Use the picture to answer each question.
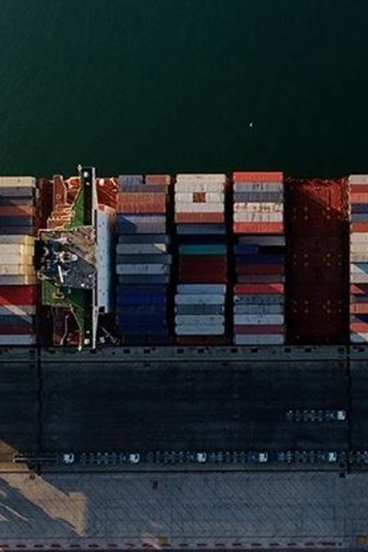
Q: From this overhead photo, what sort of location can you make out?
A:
port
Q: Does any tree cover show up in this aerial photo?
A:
No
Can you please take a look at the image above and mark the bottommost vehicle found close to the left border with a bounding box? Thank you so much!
[13,454,75,466]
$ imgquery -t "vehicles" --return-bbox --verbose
[288,411,347,422]
[278,453,337,465]
[79,454,139,466]
[209,453,269,465]
[13,454,75,466]
[147,454,207,467]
